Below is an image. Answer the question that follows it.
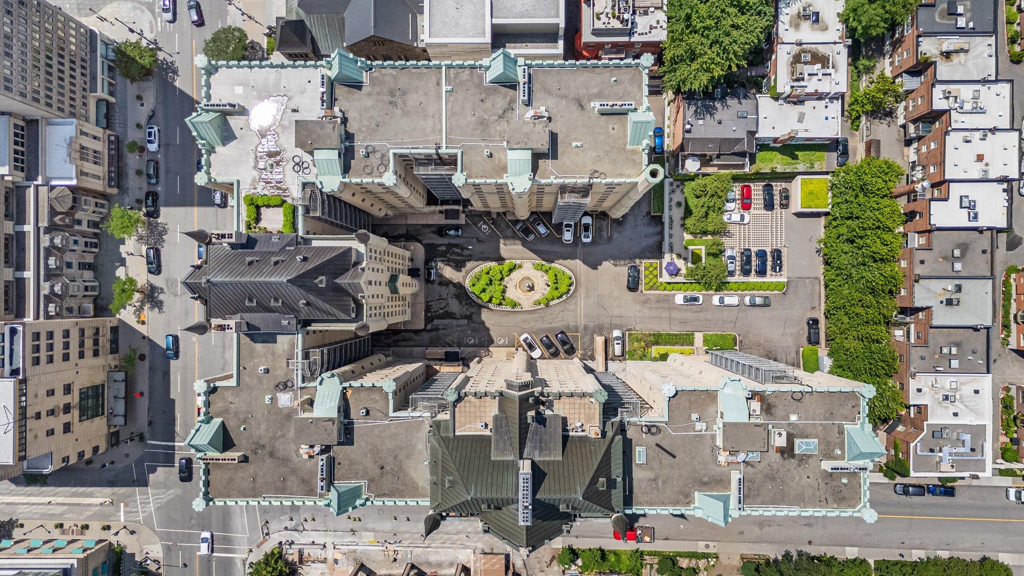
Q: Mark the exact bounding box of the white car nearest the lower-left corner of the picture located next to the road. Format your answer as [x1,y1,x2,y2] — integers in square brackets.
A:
[199,528,213,557]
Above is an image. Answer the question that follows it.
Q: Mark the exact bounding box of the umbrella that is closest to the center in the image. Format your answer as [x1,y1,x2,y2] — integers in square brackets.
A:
[663,262,677,274]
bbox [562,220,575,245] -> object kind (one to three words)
vehicle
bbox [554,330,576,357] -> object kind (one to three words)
car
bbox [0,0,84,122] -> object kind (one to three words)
building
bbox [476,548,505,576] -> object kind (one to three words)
building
